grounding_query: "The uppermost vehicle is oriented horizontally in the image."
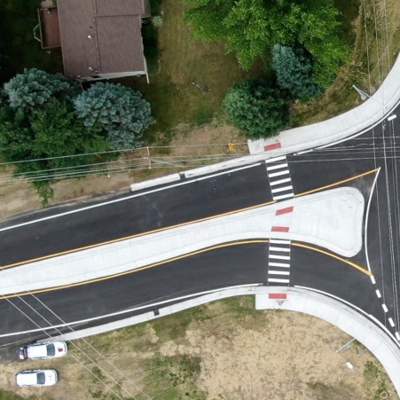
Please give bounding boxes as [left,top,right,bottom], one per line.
[19,340,69,361]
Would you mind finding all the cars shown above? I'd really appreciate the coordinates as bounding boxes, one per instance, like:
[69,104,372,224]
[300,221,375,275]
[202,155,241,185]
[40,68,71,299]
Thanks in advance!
[19,340,69,361]
[16,368,61,388]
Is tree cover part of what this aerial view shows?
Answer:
Yes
